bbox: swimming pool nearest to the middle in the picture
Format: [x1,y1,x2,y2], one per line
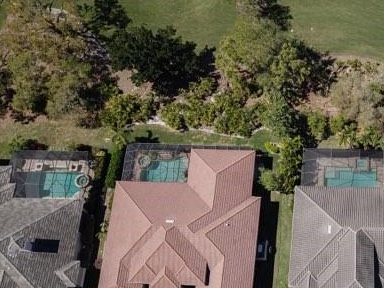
[132,155,190,183]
